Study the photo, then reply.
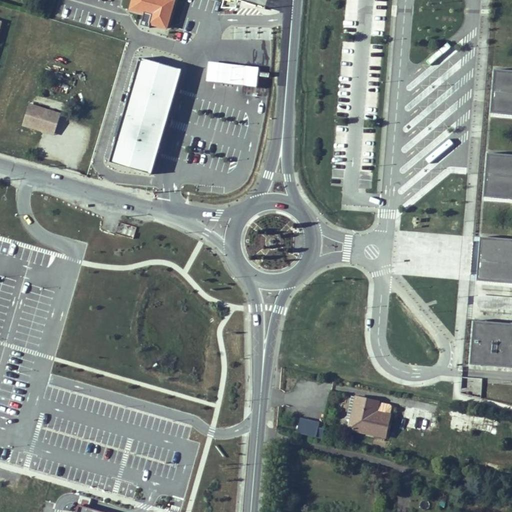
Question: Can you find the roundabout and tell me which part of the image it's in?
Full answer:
You can find the roundabout in the center area of the picture.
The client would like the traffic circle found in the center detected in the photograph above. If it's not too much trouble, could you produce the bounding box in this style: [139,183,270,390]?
[226,194,320,290]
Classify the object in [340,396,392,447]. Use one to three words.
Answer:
house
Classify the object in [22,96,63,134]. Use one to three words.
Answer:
barn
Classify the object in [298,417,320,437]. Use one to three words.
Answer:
shed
